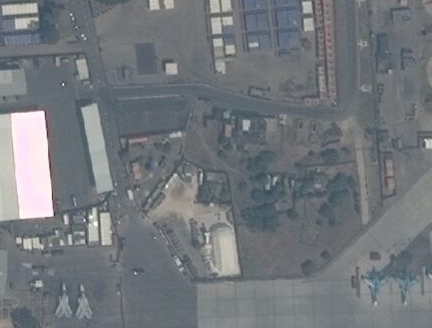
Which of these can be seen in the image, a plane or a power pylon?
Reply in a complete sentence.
There is a plane in the scene.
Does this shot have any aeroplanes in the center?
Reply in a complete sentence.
No, no aeroplane appears in the center.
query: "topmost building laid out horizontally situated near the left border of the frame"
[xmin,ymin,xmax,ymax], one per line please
[1,2,37,16]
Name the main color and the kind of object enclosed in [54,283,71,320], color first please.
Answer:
gray airplane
